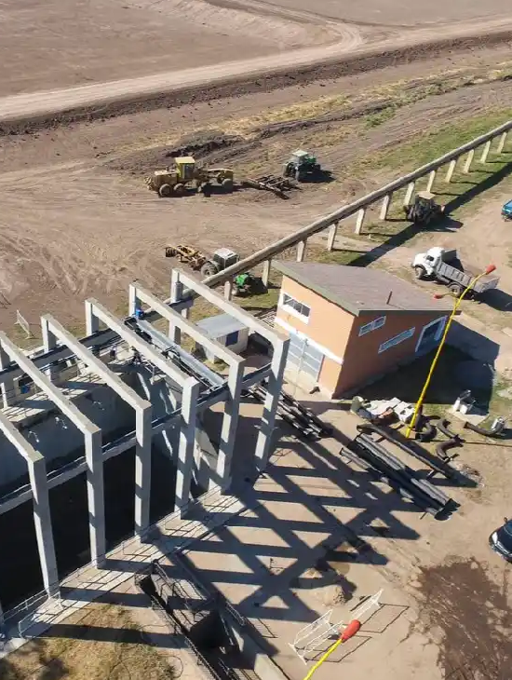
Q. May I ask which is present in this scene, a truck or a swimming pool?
truck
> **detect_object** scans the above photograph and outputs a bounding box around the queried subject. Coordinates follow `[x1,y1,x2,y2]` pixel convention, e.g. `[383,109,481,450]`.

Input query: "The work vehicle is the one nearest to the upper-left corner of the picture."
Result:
[146,155,227,194]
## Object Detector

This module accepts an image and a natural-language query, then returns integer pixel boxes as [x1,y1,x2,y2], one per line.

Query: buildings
[194,311,252,365]
[270,261,456,399]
